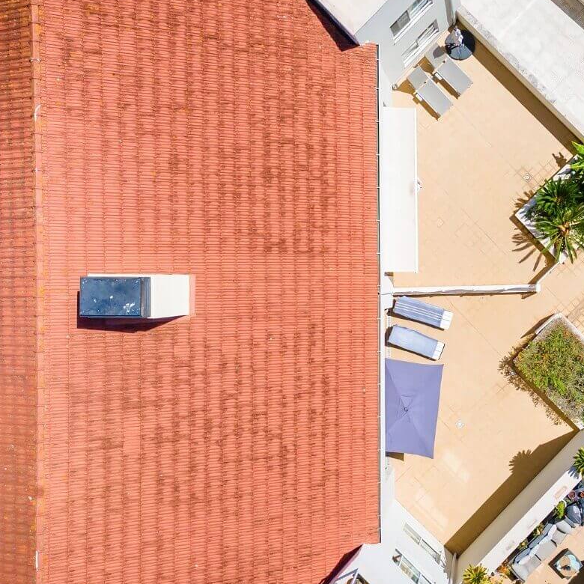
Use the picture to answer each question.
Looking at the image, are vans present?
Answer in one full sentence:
No, there appears to be no van in this shot.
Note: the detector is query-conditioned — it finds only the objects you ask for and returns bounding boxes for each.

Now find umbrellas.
[444,20,475,59]
[385,358,444,458]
